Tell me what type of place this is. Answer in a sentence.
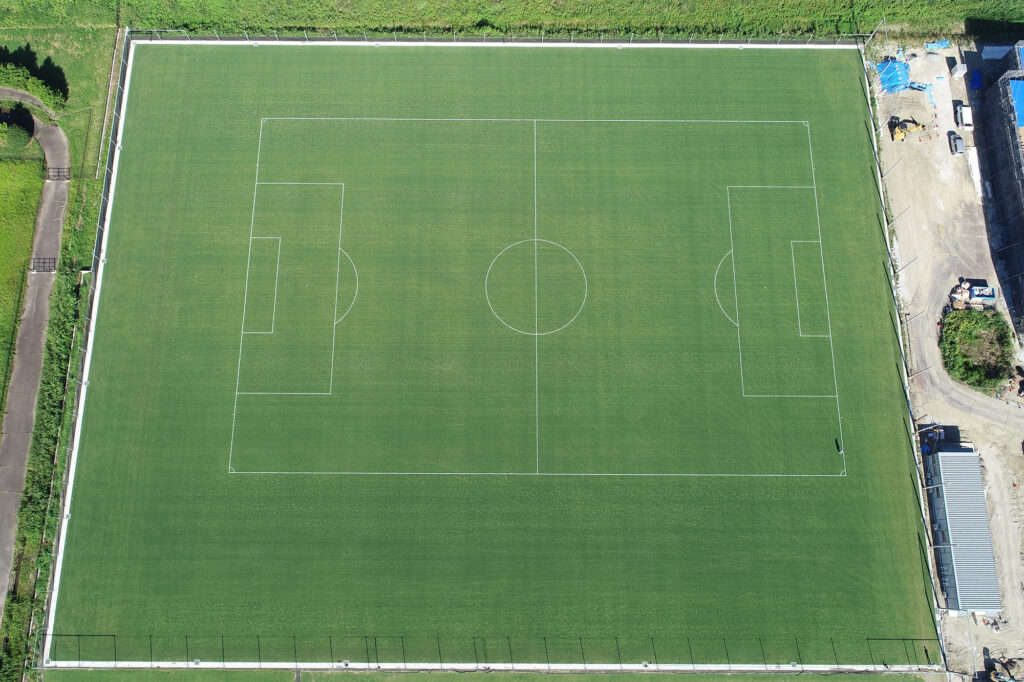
This image shows a sports ground.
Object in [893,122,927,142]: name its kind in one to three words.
work vehicle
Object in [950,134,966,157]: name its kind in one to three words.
car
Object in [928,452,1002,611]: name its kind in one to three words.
shed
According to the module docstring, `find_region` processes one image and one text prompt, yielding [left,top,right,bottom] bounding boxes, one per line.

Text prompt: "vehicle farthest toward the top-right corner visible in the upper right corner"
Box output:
[956,103,974,131]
